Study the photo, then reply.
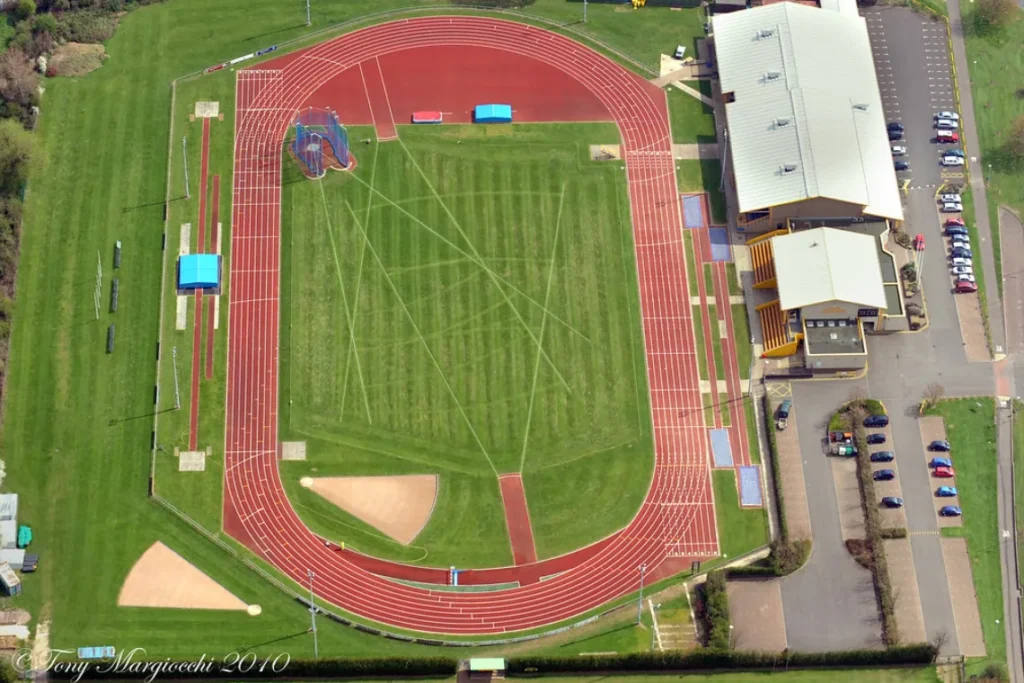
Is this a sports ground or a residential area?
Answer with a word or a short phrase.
sports ground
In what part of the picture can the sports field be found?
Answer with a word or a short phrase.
center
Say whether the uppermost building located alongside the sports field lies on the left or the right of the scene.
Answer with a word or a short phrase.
right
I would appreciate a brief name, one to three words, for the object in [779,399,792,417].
vehicle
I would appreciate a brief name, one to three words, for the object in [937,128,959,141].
vehicle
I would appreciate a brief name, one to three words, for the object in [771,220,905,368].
building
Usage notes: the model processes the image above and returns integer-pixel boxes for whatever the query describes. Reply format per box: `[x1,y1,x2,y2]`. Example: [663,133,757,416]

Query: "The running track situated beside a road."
[220,14,720,634]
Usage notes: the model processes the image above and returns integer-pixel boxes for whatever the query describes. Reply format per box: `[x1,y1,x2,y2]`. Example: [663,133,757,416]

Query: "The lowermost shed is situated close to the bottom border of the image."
[470,658,504,680]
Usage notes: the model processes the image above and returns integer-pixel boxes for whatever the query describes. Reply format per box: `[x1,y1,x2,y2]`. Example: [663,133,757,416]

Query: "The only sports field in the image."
[279,122,655,569]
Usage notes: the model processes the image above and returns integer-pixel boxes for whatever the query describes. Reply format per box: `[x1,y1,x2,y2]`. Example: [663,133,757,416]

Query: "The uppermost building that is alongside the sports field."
[712,0,903,244]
